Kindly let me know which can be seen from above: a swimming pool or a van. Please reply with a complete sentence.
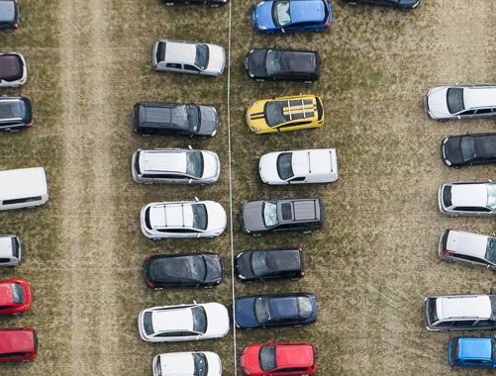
Visible in the photo is a van.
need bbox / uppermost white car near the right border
[426,82,496,121]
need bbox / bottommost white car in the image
[153,348,222,376]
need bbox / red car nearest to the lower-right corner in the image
[240,341,318,376]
